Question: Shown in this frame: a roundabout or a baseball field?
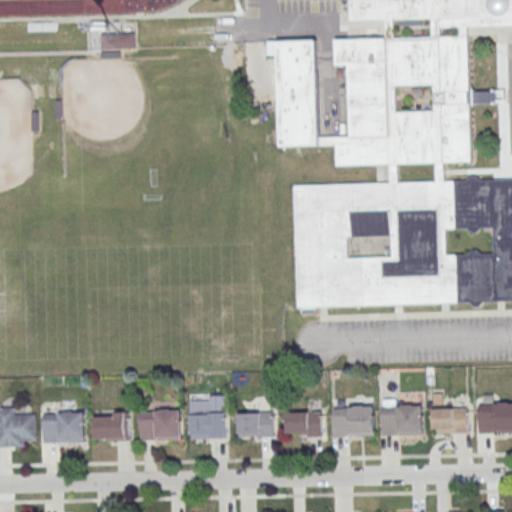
baseball field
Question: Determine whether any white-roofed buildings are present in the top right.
Yes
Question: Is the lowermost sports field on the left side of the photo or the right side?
left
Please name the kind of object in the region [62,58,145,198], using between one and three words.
baseball field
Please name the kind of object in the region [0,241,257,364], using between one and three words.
sports field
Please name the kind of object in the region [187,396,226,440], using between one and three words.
house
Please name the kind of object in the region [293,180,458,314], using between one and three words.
building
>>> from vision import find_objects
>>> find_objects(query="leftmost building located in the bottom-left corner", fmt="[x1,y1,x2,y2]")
[0,407,36,448]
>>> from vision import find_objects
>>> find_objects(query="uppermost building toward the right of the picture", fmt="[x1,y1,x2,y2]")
[266,0,512,181]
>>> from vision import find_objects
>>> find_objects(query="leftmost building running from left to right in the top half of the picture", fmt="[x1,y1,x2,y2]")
[101,32,134,49]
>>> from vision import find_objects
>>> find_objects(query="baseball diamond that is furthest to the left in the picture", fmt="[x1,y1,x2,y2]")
[0,78,34,192]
